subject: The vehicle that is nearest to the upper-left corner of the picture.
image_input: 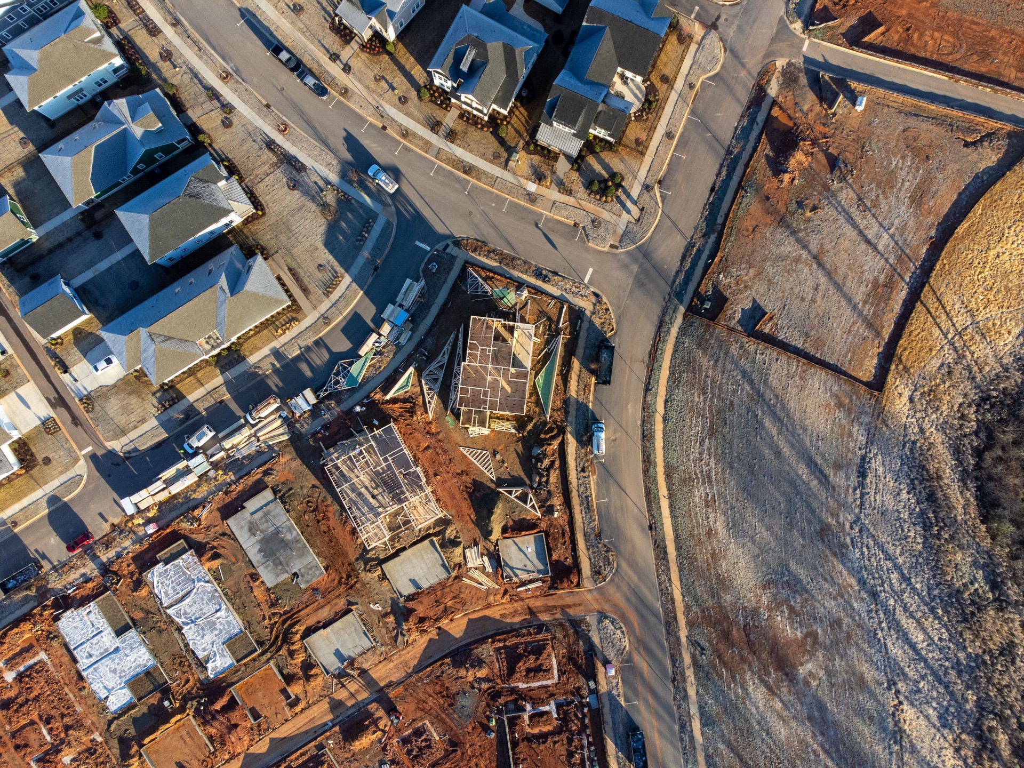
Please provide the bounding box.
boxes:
[266,39,303,73]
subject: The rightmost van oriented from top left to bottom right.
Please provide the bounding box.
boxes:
[365,161,400,192]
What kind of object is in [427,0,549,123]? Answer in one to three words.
house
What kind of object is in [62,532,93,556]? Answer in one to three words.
car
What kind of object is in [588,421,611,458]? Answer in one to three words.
vehicle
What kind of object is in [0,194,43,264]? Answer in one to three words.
building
